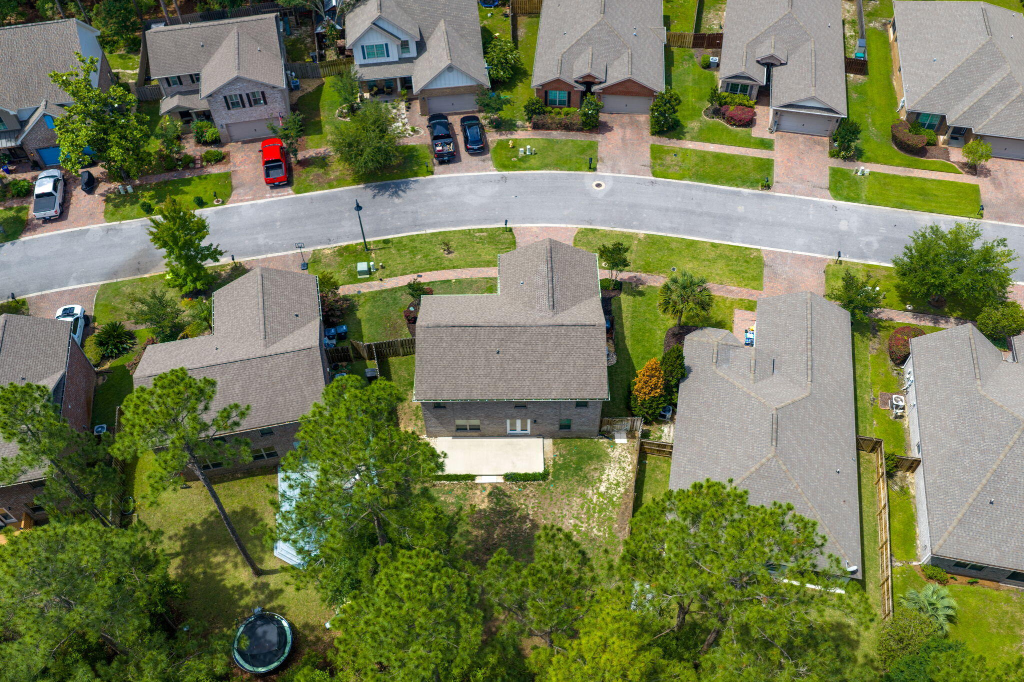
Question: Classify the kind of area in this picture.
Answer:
residential area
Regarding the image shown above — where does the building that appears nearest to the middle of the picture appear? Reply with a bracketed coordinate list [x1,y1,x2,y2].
[413,238,610,444]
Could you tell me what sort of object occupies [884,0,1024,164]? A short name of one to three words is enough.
house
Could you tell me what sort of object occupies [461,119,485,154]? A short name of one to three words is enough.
car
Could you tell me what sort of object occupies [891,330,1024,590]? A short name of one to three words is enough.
house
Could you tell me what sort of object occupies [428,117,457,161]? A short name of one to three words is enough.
truck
